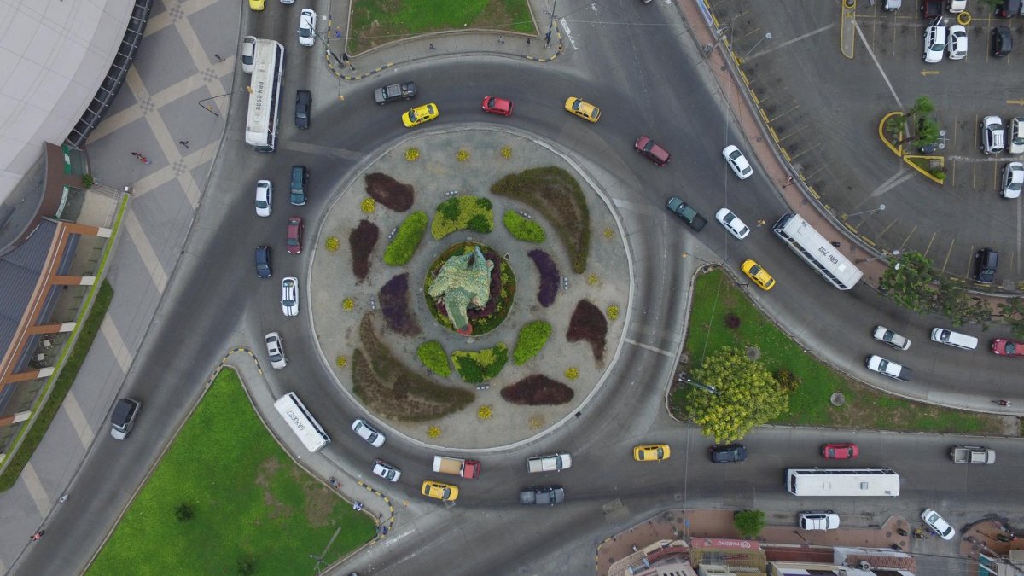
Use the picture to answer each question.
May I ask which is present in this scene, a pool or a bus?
bus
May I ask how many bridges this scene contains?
0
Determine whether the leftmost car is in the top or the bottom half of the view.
bottom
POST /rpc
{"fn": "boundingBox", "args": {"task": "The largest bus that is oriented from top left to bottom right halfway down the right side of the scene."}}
[766,208,861,289]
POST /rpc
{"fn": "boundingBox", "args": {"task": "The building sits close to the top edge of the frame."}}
[0,0,166,209]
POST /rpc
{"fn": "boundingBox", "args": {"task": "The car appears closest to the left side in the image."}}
[110,395,142,442]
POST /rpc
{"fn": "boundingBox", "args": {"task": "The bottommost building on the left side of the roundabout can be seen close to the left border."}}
[0,221,113,430]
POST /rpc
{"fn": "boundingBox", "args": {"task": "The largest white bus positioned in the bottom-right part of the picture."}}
[780,467,895,496]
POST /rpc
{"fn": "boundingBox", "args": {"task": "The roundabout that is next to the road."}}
[309,126,634,451]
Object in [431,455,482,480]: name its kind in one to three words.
truck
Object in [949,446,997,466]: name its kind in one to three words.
vehicle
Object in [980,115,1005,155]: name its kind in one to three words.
car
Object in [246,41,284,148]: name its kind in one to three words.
bus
